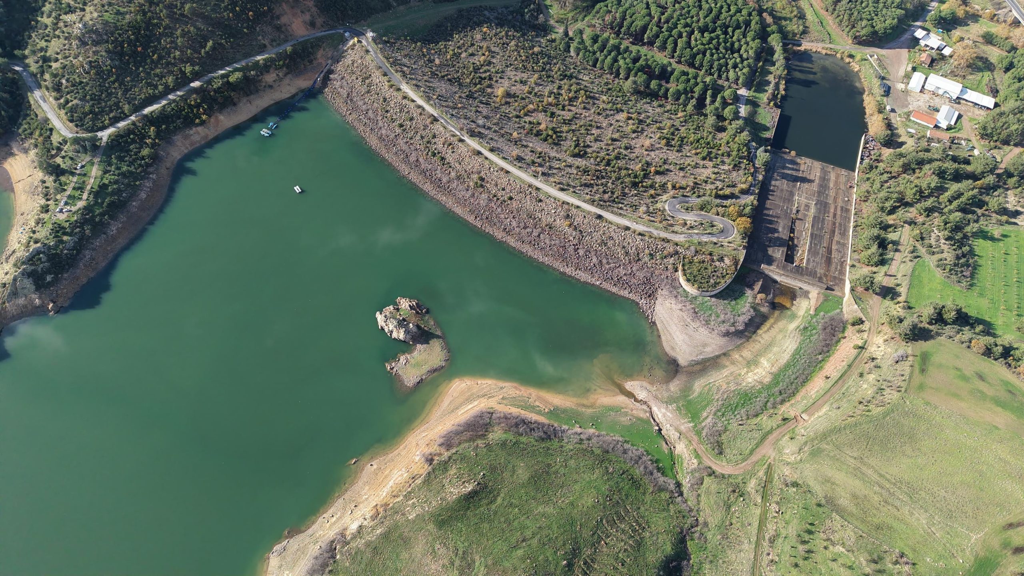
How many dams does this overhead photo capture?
1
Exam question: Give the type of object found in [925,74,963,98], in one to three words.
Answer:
barn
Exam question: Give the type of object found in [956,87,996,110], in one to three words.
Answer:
shed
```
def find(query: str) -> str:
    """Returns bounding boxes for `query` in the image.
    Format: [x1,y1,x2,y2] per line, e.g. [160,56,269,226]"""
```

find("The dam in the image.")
[321,20,752,328]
